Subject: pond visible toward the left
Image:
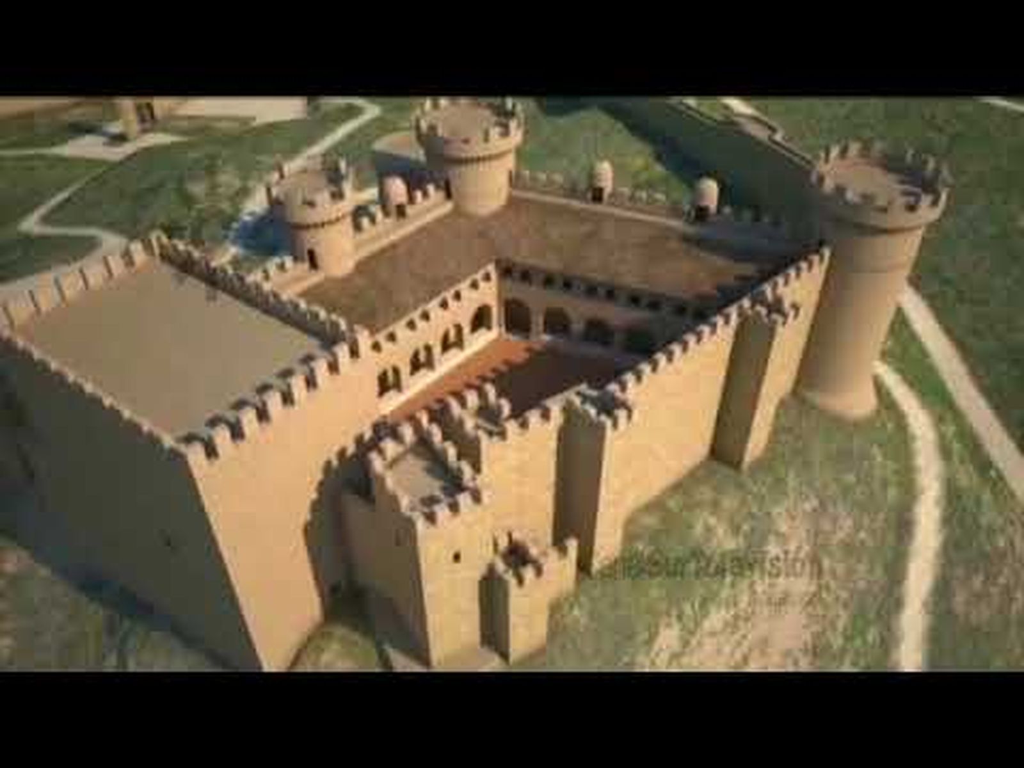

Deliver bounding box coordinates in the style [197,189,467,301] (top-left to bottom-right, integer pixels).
[231,213,289,252]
